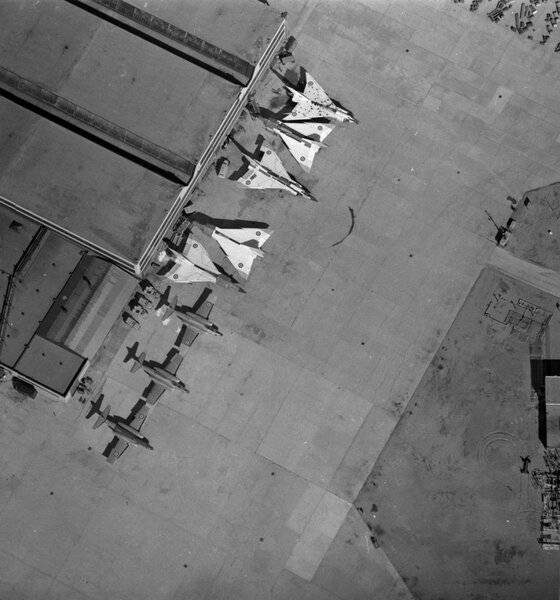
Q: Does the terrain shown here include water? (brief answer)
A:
No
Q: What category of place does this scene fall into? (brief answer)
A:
airport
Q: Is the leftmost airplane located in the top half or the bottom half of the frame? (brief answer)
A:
bottom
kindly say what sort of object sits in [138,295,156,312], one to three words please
car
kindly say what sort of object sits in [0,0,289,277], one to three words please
hangar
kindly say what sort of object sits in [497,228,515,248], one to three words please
vehicle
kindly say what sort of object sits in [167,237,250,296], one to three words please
airplane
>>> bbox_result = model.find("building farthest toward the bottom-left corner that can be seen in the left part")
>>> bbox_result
[15,335,91,398]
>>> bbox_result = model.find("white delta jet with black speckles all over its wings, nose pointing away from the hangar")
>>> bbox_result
[284,72,362,128]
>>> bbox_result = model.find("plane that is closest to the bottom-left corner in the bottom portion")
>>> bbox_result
[92,403,152,463]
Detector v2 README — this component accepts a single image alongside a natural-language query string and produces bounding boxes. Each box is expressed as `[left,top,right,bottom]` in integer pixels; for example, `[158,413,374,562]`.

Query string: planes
[284,72,362,128]
[186,214,273,279]
[253,111,334,173]
[162,288,222,346]
[92,403,152,463]
[240,145,322,206]
[128,345,188,404]
[167,237,250,296]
